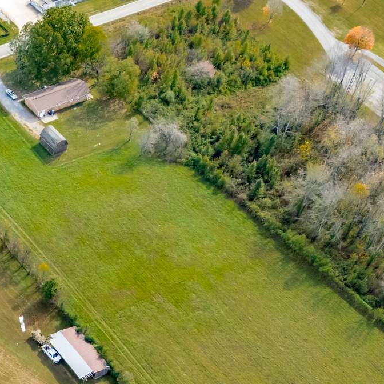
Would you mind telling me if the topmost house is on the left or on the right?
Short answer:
left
